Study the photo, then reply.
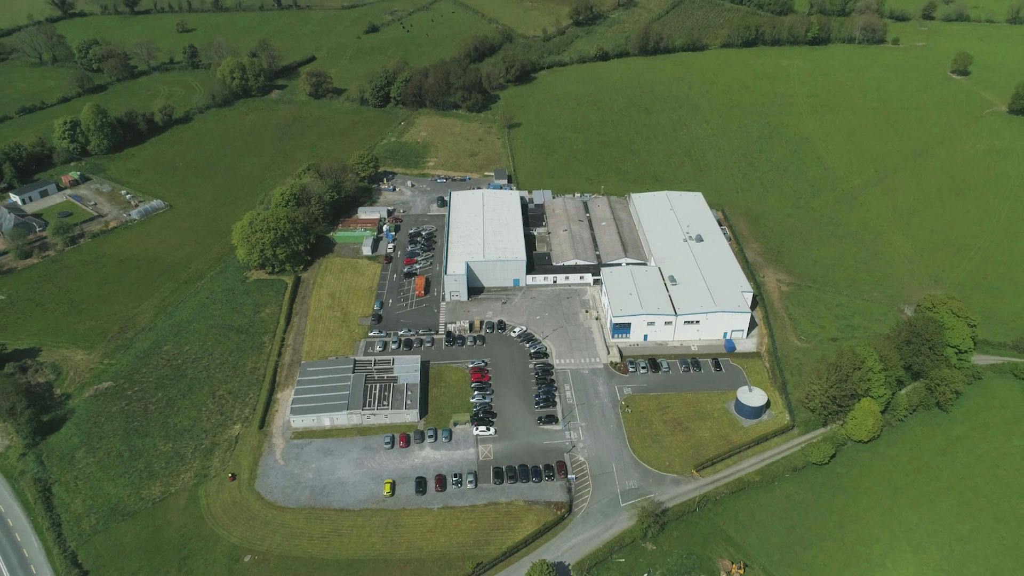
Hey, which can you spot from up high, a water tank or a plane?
water tank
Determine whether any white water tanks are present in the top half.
No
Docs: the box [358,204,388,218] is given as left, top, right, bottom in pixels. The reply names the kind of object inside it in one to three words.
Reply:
shed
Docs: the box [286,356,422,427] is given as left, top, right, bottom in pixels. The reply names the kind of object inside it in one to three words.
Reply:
building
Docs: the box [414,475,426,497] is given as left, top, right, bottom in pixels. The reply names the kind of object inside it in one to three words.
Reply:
vehicle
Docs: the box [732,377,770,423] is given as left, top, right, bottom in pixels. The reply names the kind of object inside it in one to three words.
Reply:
water tank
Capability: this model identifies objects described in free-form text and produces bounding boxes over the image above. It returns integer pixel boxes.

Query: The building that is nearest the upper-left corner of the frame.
[5,178,59,205]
